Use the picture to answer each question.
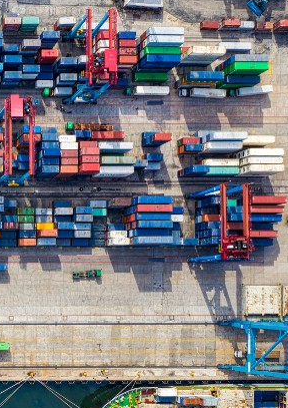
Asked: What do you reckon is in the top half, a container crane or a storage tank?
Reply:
container crane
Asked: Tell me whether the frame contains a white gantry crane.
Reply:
No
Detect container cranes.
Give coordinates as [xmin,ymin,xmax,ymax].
[184,184,254,269]
[62,7,119,103]
[0,88,39,184]
[220,317,288,383]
